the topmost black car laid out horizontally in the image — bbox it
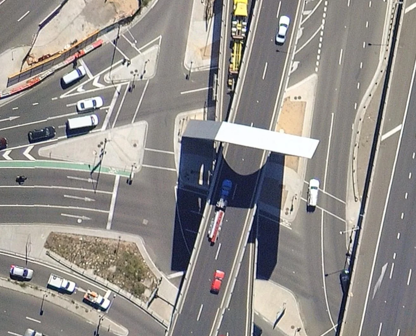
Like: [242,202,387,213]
[28,126,56,142]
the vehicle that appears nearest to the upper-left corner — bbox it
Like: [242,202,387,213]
[59,65,88,87]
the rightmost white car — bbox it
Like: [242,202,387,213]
[306,178,320,208]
